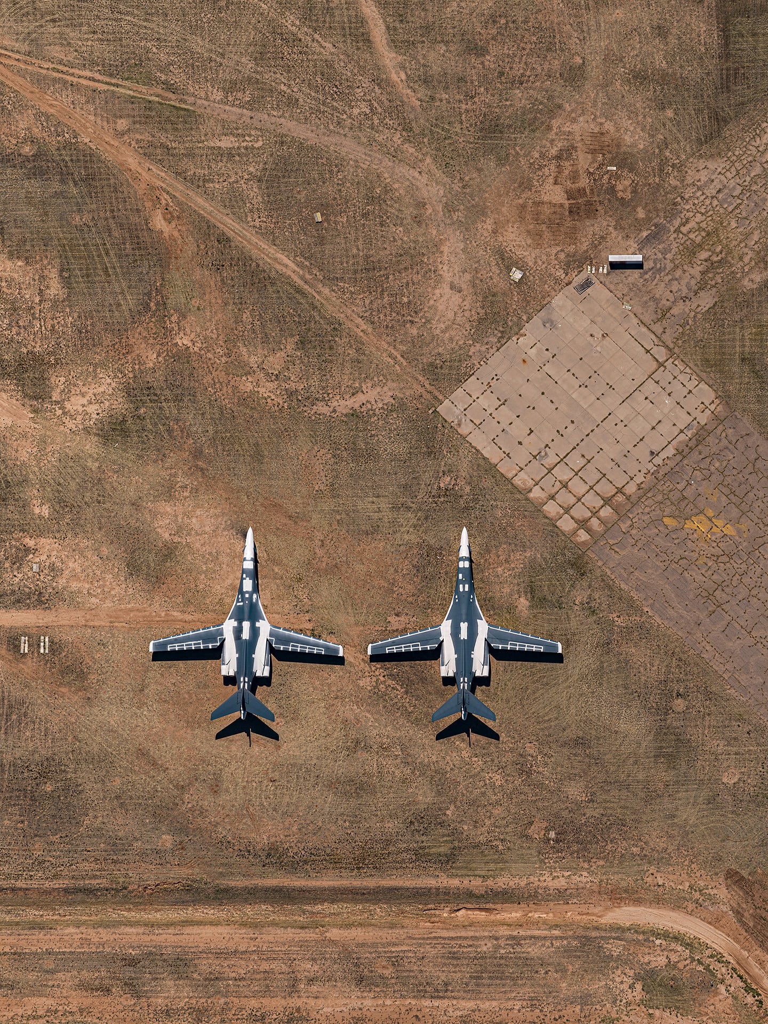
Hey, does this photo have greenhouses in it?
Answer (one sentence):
No, there's no greenhouse here.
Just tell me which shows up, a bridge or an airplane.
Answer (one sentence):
Looking from above, you can make out an airplane.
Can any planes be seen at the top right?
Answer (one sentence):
No, no plane is visible at the top right.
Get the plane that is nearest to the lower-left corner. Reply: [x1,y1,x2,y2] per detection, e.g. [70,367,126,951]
[149,527,344,723]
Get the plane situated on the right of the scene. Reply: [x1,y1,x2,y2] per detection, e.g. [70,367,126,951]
[368,527,563,722]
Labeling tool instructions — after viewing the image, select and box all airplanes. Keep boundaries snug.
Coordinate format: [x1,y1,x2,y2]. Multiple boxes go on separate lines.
[368,527,563,722]
[149,527,344,723]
